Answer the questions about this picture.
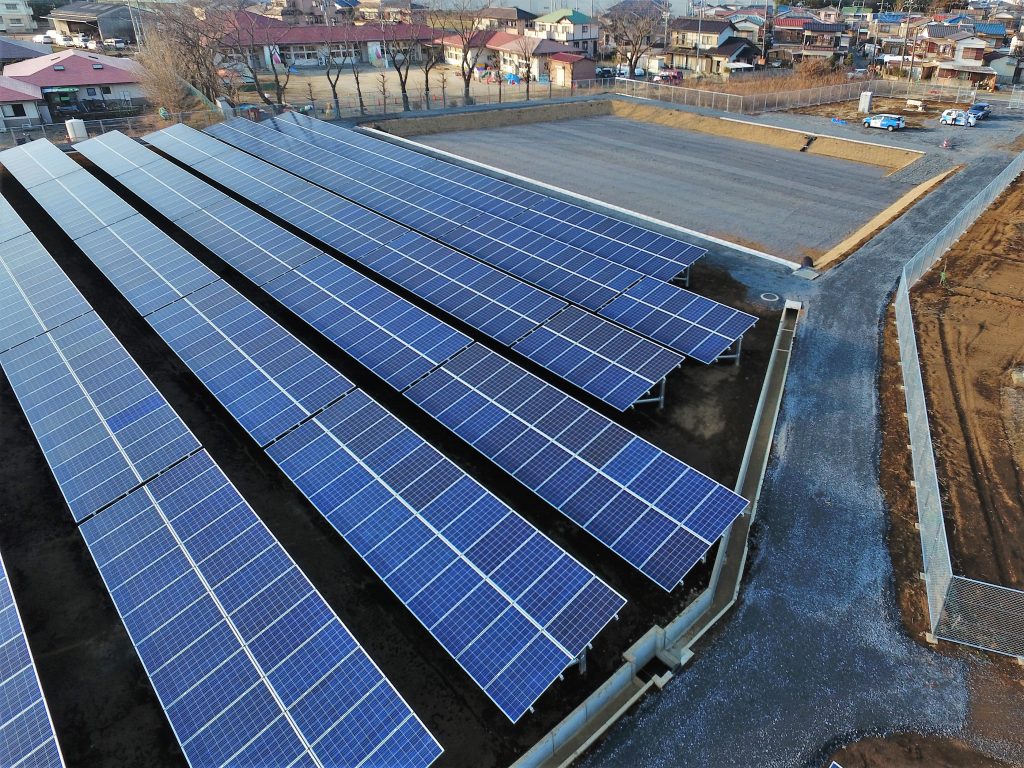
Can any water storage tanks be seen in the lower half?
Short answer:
No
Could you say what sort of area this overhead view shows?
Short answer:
solar farm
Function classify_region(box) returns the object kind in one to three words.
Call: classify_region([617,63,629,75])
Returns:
vehicle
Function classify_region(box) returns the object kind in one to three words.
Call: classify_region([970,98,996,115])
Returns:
car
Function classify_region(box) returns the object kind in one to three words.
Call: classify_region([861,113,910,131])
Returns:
car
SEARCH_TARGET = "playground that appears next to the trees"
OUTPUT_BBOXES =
[231,64,566,119]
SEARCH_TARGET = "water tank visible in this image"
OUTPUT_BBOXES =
[58,115,89,146]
